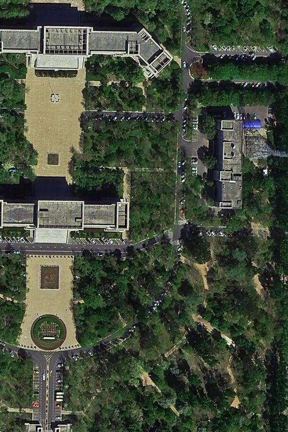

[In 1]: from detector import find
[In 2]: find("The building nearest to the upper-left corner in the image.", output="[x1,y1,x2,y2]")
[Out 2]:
[0,27,175,78]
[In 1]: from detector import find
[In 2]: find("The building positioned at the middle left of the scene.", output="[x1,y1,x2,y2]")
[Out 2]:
[0,199,130,244]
